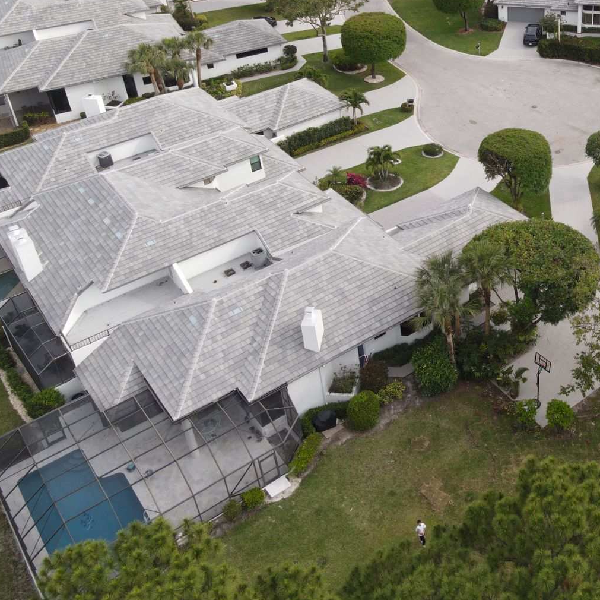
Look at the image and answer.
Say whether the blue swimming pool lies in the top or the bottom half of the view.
bottom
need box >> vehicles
[250,11,285,27]
[524,27,543,47]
